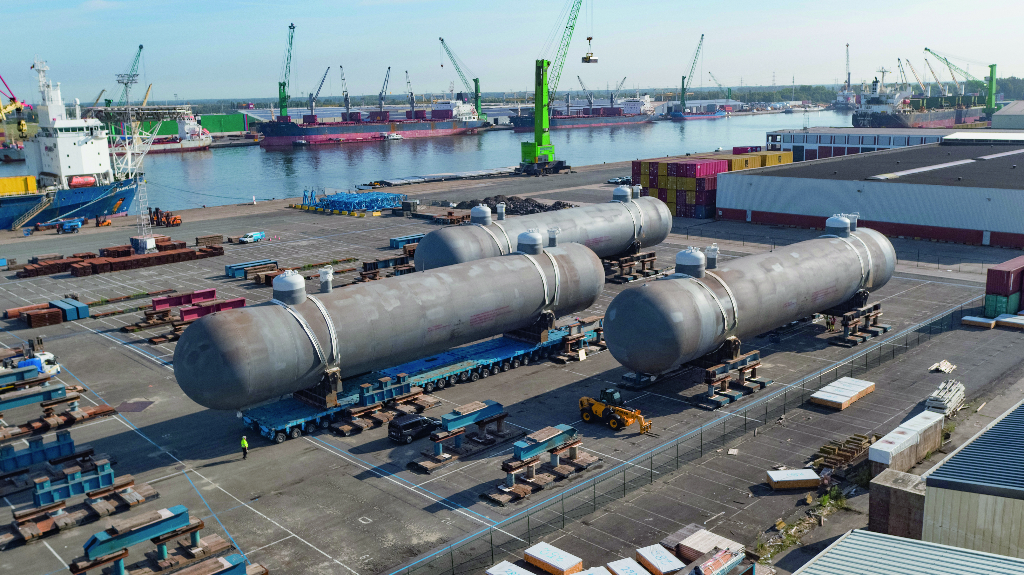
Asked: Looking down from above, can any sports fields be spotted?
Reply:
No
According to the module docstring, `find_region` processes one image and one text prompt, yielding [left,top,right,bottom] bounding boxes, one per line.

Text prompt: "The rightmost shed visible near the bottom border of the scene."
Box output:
[921,398,1024,575]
